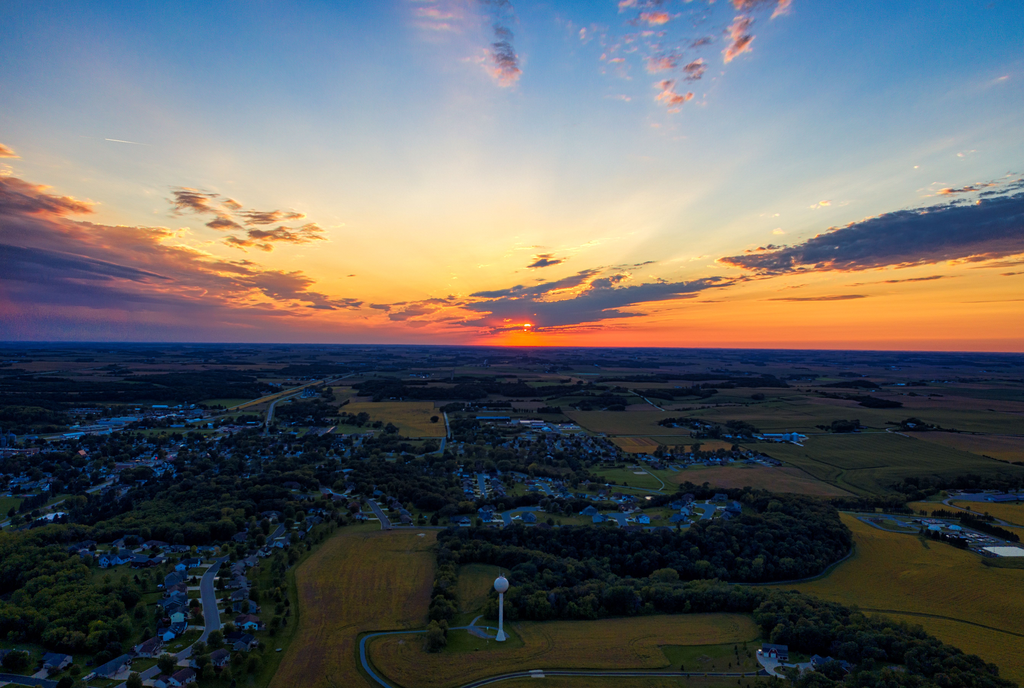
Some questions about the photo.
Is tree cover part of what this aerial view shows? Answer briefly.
Yes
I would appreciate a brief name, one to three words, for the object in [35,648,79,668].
house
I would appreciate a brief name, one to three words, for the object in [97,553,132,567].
house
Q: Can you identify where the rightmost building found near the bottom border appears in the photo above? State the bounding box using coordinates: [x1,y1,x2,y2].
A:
[803,653,845,671]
